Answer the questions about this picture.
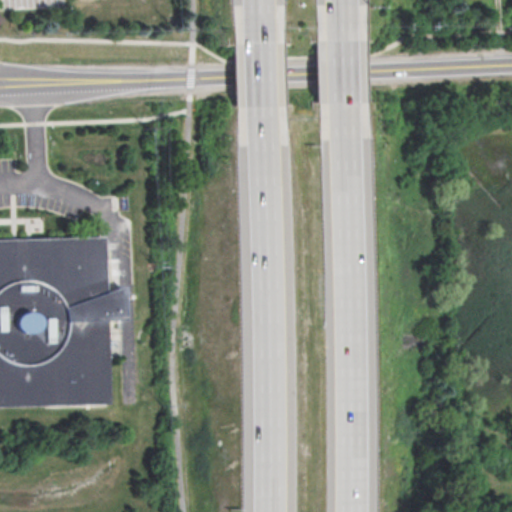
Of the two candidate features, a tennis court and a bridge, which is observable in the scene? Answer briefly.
bridge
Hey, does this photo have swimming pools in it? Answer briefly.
No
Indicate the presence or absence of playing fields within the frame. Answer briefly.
No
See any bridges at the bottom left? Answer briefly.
No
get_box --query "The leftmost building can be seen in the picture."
[0,237,132,408]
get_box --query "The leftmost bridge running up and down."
[233,4,290,146]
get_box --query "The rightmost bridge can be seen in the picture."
[314,4,372,146]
